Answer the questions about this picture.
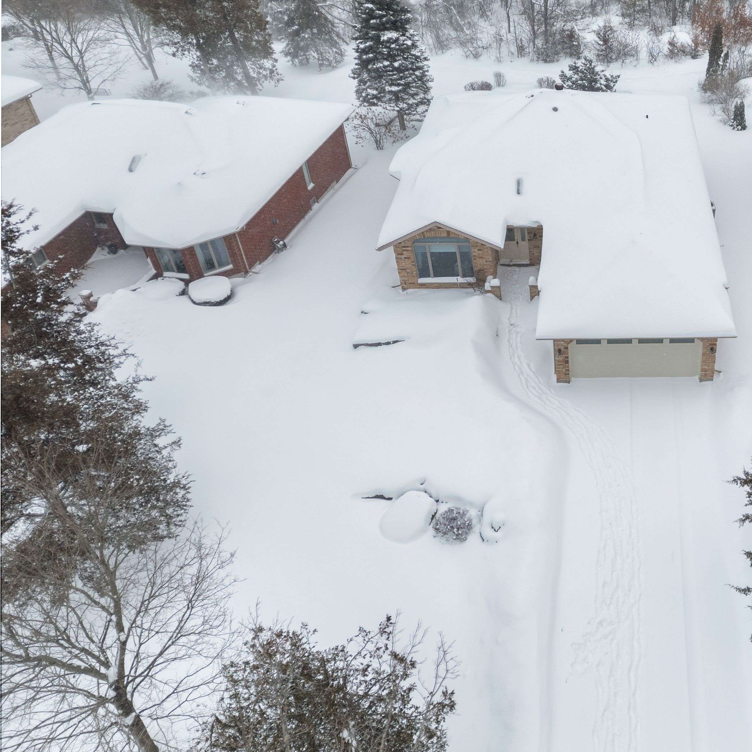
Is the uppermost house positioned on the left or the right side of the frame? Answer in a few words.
left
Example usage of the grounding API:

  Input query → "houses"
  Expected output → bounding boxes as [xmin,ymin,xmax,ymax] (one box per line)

[0,87,363,329]
[377,76,739,385]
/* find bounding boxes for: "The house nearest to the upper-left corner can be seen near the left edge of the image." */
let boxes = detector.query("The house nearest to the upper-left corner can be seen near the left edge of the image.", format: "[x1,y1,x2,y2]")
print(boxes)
[0,73,40,146]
